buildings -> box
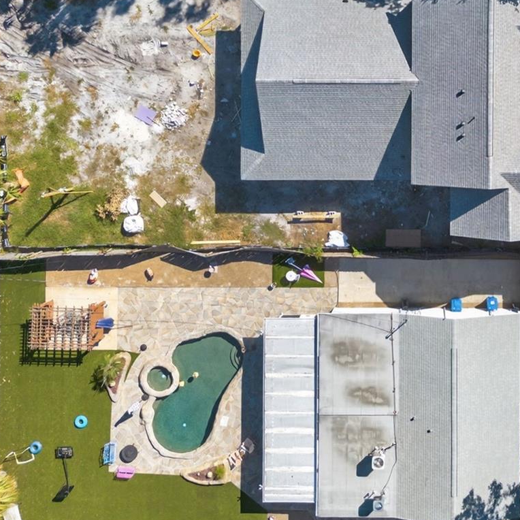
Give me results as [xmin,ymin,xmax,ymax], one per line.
[239,0,520,241]
[264,306,520,520]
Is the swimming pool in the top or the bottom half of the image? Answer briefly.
bottom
